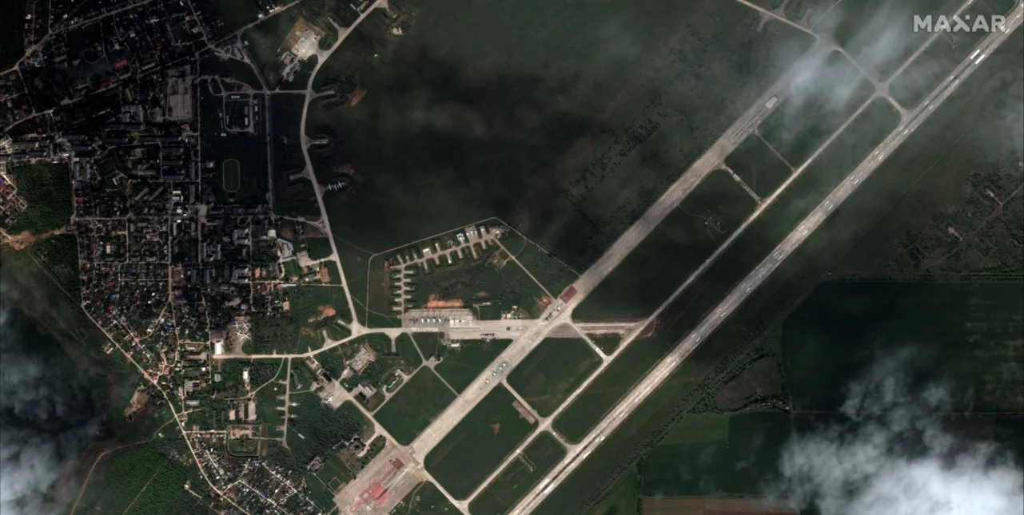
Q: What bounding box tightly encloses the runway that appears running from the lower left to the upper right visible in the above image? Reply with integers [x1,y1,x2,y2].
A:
[508,9,1024,515]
